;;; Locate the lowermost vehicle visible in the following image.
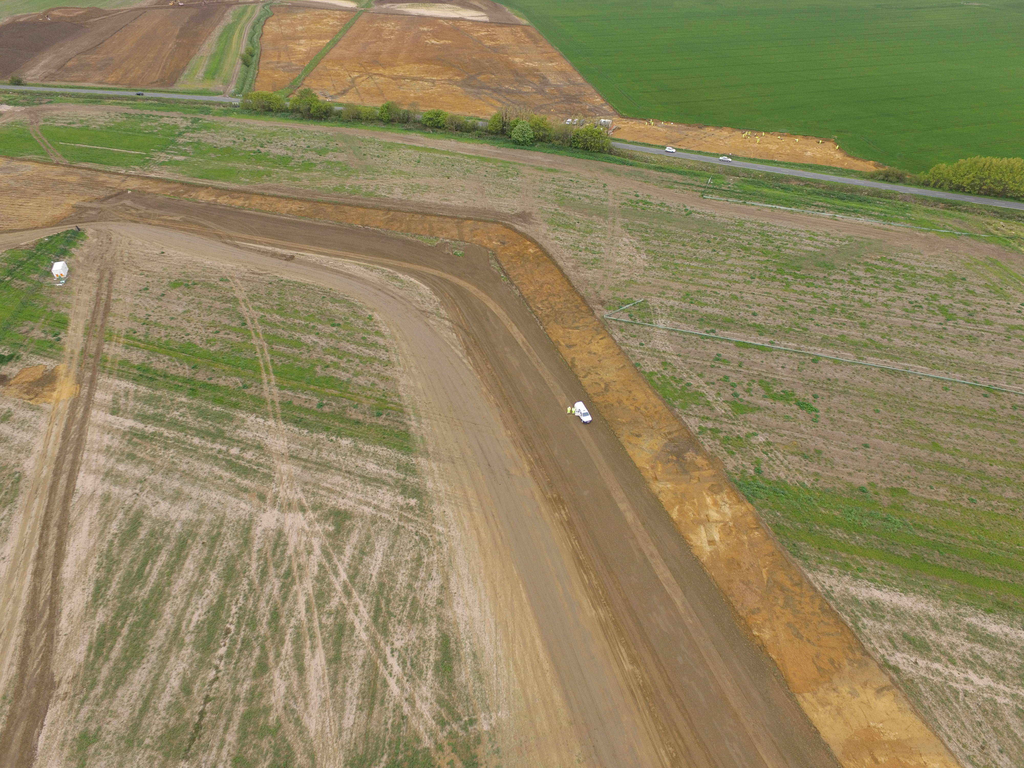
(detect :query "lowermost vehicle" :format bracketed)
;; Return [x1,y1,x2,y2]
[575,402,592,423]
